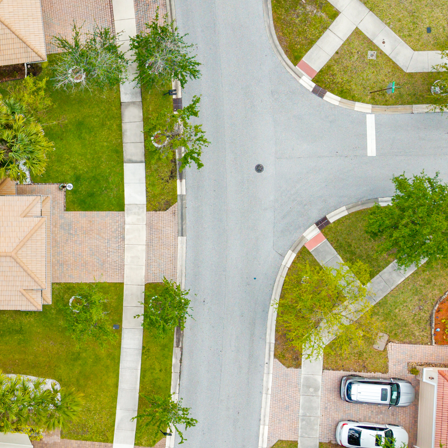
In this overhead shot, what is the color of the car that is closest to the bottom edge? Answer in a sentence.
The car that is closest to the bottom edge looks white in the image.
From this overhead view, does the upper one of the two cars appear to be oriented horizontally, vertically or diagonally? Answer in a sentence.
Seen from above, the upper one of the two cars lies horizontally.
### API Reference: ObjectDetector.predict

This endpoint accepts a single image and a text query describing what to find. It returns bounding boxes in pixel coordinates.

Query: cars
[332,417,407,448]
[336,372,414,411]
